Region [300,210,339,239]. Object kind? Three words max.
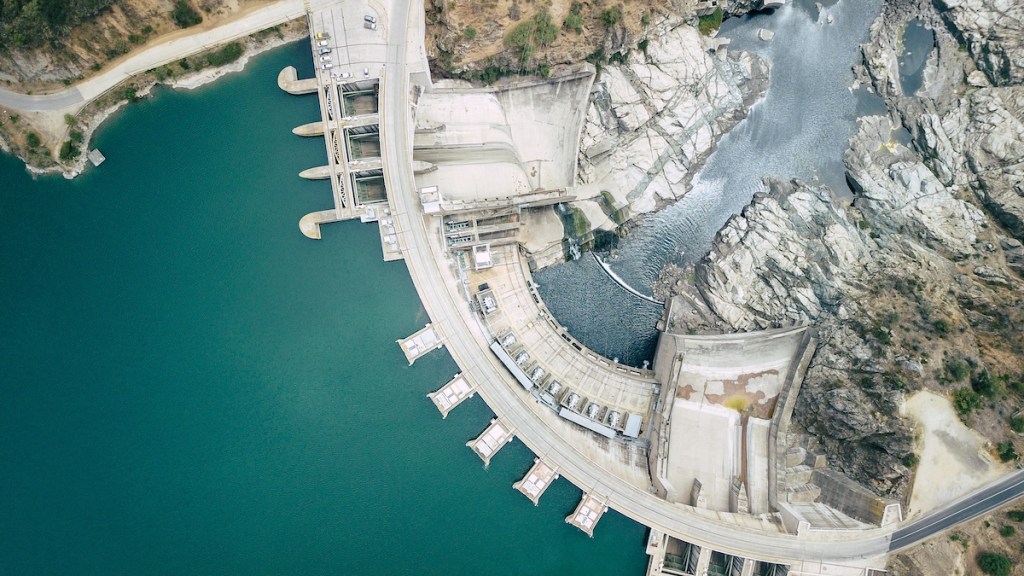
pier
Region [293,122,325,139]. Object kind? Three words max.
pier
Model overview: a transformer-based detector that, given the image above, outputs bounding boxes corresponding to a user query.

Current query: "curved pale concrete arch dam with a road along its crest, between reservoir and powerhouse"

[378,0,890,566]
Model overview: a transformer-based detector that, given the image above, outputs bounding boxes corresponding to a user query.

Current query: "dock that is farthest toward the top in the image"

[279,66,320,96]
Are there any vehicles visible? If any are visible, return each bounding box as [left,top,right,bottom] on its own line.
[364,22,377,29]
[340,71,352,77]
[320,55,331,61]
[317,40,327,46]
[321,63,332,69]
[319,48,330,54]
[364,15,375,22]
[315,32,332,39]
